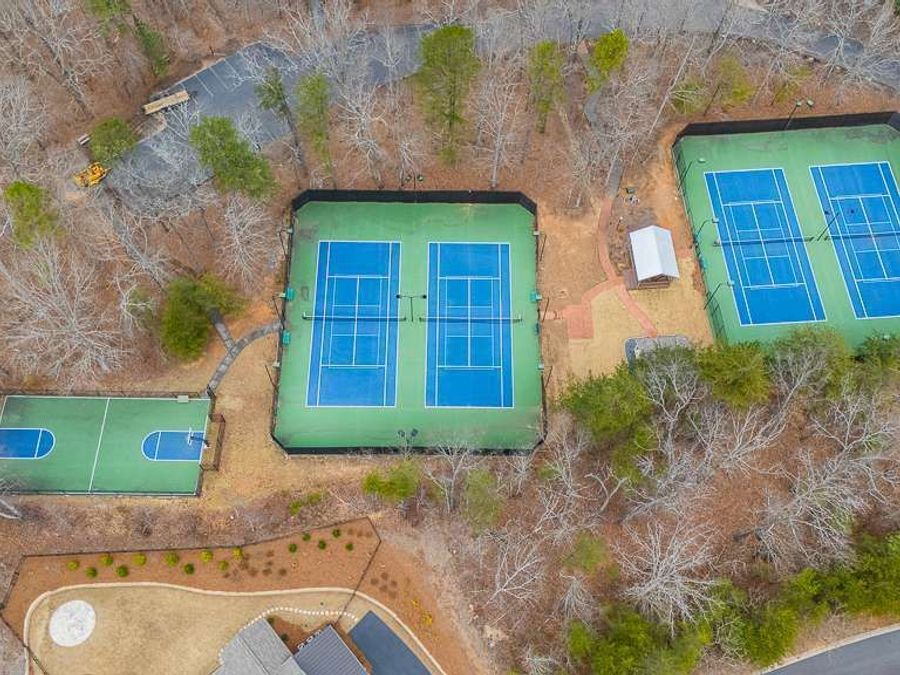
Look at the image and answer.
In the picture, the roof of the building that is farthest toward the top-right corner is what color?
white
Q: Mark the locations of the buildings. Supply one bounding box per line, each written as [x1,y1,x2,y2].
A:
[221,617,369,675]
[625,228,680,292]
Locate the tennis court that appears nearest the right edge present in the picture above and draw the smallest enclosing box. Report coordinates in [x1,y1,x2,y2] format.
[786,125,900,352]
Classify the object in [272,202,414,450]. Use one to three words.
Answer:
tennis court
